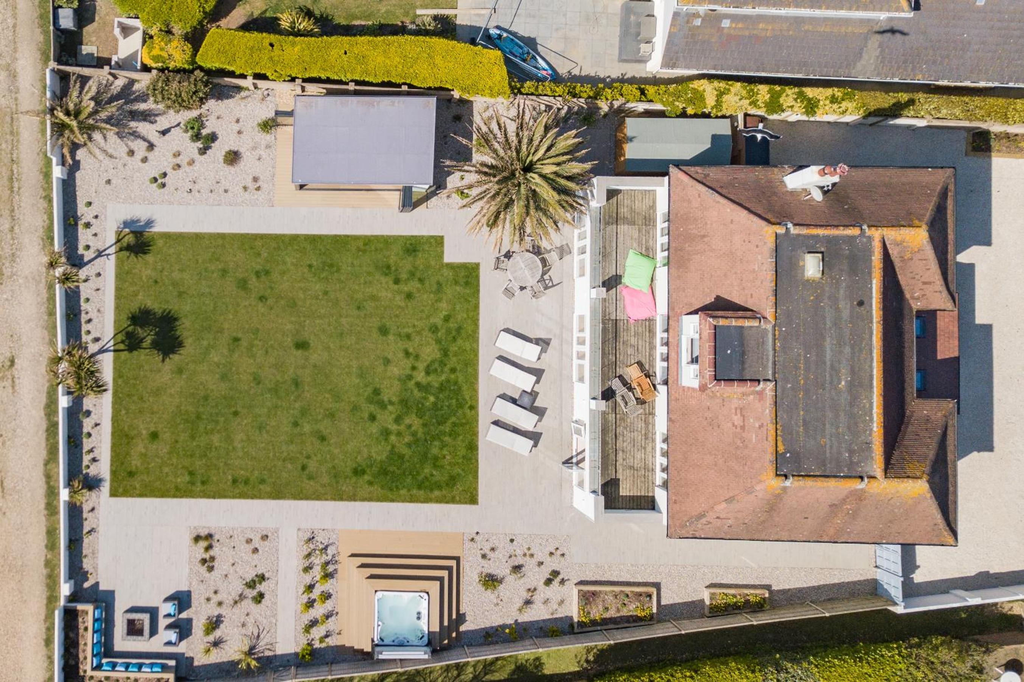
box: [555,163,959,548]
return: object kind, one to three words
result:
house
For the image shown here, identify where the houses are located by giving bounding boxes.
[555,163,959,548]
[645,0,1024,95]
